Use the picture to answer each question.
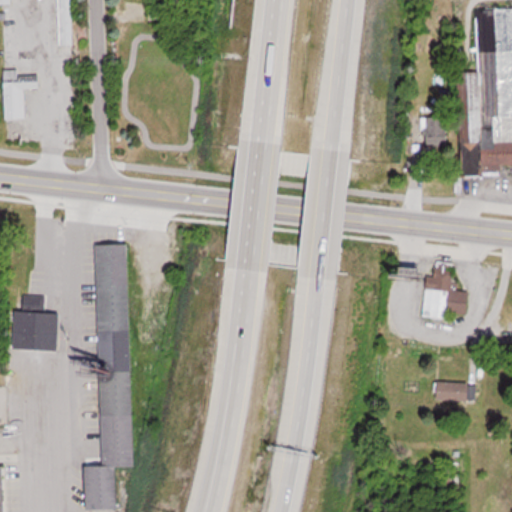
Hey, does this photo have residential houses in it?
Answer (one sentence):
Yes, the picture does show a residential house.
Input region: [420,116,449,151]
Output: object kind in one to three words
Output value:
house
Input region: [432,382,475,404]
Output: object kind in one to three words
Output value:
house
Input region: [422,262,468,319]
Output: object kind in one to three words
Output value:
building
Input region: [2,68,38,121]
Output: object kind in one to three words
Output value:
building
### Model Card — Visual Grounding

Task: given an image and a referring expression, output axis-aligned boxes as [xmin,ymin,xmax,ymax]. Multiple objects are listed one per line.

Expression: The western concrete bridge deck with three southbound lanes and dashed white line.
[224,140,282,272]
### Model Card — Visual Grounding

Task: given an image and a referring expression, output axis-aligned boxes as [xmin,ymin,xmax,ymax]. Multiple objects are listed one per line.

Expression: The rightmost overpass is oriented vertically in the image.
[298,147,351,278]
